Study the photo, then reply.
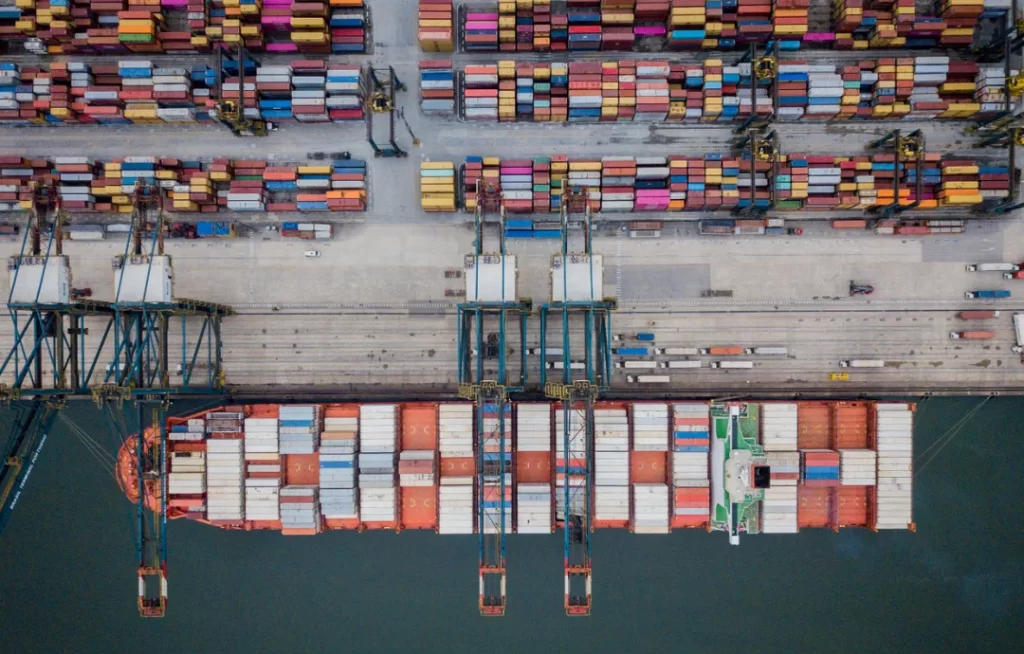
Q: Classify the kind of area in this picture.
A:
port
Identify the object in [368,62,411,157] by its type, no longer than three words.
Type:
container crane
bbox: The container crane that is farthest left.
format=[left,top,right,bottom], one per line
[0,179,160,529]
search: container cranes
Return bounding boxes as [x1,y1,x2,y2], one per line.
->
[106,179,250,614]
[861,128,927,224]
[967,37,1024,139]
[456,179,533,614]
[729,44,783,146]
[972,127,1024,223]
[971,0,1024,51]
[213,45,270,147]
[368,62,411,157]
[726,128,780,224]
[0,179,160,529]
[531,179,616,614]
